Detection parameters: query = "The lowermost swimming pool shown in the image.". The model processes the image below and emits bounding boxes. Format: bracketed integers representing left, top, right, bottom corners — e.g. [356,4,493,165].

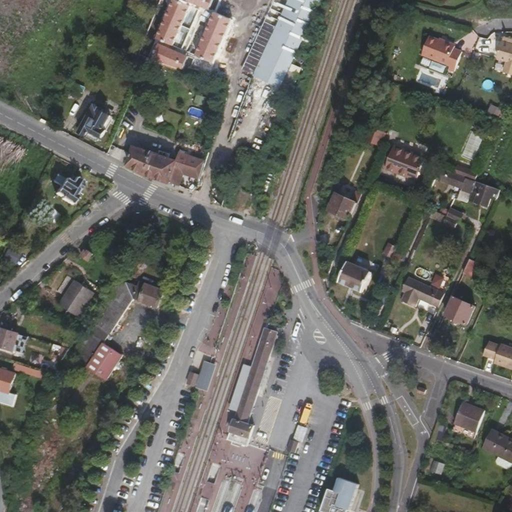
[414,268,431,280]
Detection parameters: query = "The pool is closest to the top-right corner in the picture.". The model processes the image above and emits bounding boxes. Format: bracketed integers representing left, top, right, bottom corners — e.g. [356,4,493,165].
[480,78,496,92]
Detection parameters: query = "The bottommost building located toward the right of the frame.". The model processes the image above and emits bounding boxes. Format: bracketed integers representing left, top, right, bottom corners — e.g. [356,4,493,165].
[318,478,368,512]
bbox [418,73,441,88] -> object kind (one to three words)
swimming pool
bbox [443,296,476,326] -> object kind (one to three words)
house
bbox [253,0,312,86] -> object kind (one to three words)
building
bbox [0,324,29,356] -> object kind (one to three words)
house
